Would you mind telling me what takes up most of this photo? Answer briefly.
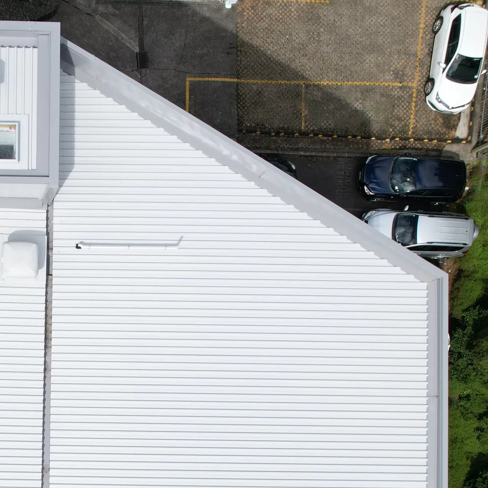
buildings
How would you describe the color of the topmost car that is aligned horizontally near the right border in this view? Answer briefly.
black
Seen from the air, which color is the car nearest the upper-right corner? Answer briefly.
white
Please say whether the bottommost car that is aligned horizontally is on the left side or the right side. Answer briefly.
right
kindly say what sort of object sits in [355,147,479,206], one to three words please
car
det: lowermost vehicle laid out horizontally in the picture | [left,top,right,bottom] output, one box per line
[360,200,487,259]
